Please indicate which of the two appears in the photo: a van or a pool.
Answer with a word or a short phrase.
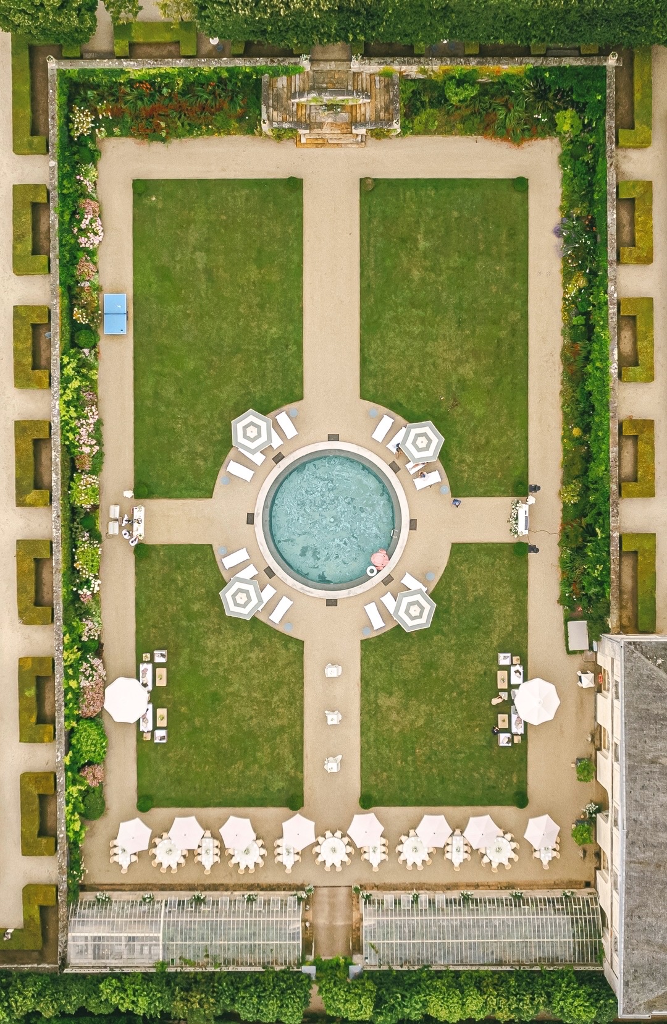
pool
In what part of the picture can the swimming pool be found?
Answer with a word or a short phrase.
center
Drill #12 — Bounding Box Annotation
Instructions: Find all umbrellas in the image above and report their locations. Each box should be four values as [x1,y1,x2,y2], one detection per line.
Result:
[115,815,153,854]
[166,815,205,850]
[523,812,560,850]
[512,676,559,723]
[219,576,263,619]
[231,409,271,454]
[398,421,443,463]
[463,813,501,850]
[414,813,452,848]
[346,812,384,849]
[218,815,257,850]
[105,674,152,722]
[524,495,536,505]
[281,813,315,852]
[124,490,135,500]
[392,587,436,631]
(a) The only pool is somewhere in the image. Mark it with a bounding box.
[255,443,410,597]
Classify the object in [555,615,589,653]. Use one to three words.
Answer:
shed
